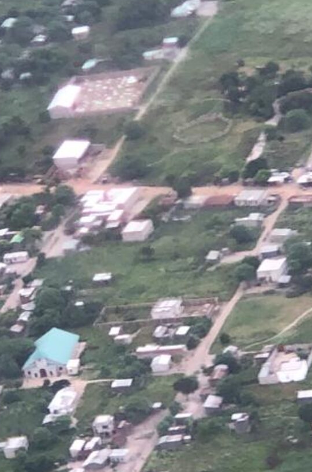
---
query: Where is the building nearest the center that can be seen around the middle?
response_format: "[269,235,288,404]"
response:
[121,219,151,242]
